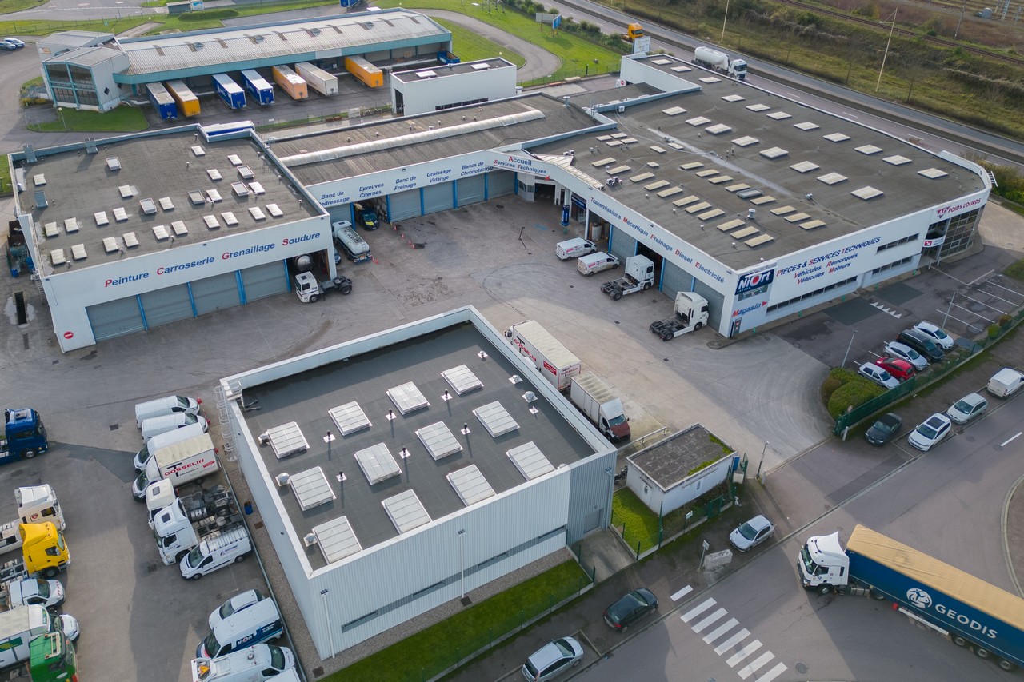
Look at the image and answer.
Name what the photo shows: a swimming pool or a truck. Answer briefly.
truck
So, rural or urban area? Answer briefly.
urban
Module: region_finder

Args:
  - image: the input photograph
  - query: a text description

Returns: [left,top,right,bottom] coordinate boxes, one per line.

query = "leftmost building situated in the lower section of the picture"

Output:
[208,305,618,659]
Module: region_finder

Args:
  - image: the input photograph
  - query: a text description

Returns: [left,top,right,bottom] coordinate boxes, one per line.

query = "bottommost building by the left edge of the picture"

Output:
[7,122,337,351]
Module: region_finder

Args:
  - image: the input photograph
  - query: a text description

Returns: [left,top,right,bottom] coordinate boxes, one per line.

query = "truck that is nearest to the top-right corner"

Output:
[693,42,754,78]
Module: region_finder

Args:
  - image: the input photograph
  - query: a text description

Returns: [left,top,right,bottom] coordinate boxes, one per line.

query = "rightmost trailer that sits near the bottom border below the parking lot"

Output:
[846,525,1024,671]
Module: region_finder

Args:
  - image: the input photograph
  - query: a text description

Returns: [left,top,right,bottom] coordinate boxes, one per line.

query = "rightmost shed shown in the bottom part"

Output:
[624,425,738,517]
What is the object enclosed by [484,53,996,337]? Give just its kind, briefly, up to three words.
building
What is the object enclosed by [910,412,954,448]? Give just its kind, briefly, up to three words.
car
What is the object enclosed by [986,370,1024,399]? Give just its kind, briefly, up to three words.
van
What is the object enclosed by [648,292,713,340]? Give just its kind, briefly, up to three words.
truck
